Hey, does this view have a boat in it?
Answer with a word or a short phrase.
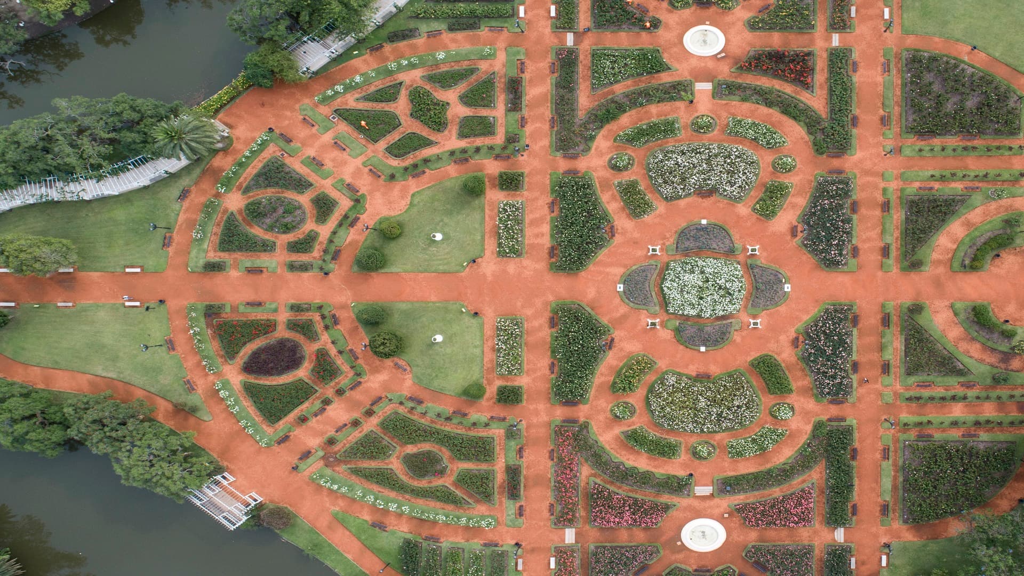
No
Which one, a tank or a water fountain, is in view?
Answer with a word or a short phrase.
water fountain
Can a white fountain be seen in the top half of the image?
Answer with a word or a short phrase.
Yes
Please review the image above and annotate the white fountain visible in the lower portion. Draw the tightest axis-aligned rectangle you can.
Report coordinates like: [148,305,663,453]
[681,518,727,552]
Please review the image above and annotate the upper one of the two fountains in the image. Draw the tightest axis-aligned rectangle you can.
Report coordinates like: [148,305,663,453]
[683,24,725,56]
